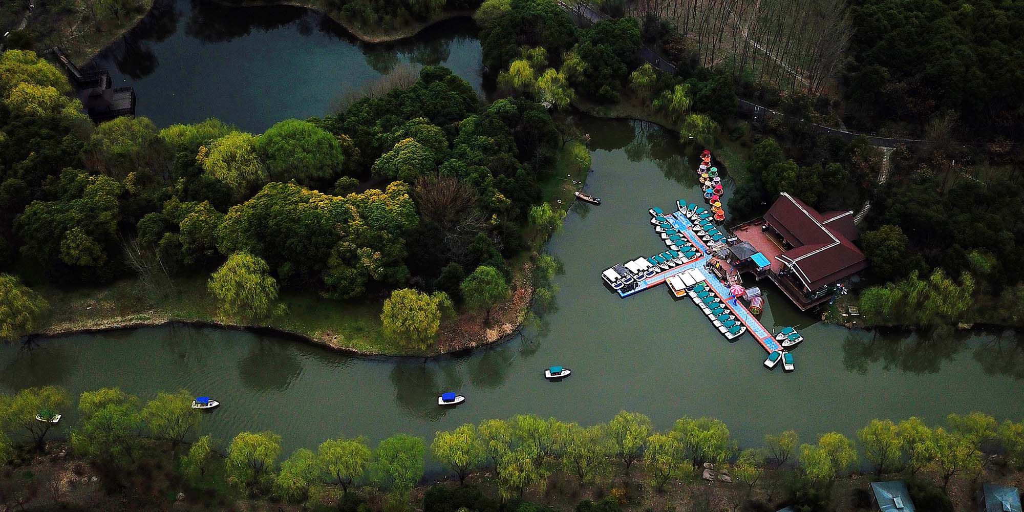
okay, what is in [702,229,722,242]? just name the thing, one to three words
boat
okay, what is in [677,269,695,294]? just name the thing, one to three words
boat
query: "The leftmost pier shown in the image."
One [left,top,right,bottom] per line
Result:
[616,211,783,354]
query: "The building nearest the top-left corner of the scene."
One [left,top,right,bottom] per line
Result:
[50,43,135,115]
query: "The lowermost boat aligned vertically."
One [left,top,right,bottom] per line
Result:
[782,351,794,374]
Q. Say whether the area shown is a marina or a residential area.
marina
